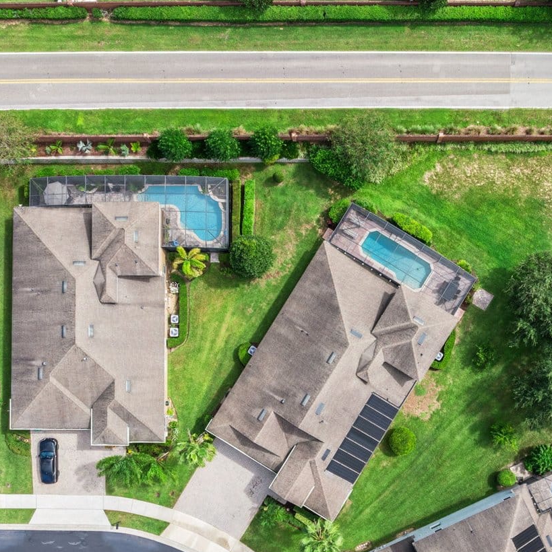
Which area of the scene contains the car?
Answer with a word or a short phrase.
bottom left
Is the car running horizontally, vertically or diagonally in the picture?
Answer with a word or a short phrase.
vertically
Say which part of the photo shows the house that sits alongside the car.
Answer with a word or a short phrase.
left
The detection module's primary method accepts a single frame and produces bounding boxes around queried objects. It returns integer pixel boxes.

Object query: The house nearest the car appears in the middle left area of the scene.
[9,200,171,447]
